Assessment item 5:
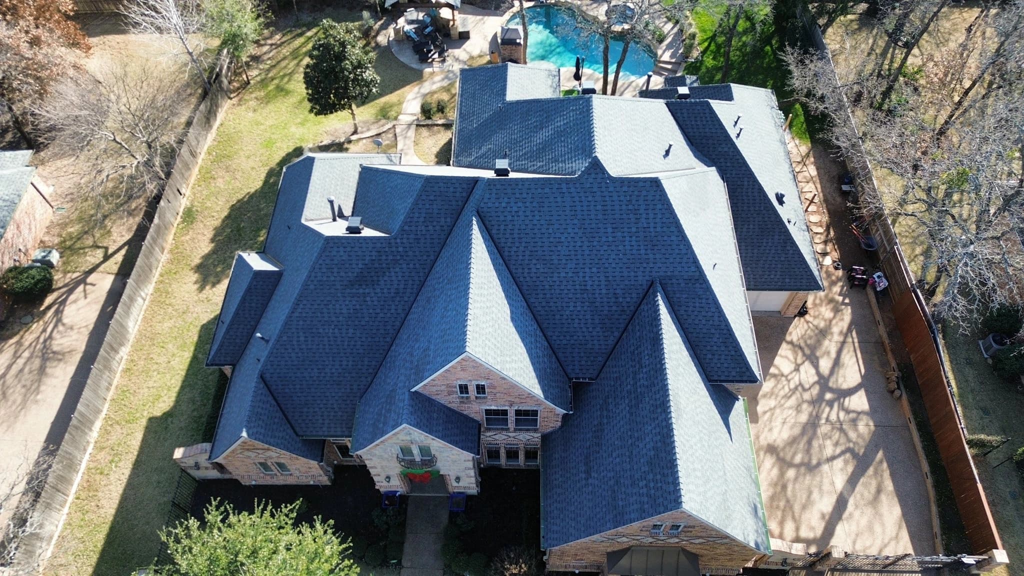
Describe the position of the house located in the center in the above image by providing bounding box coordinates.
[202,63,827,576]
